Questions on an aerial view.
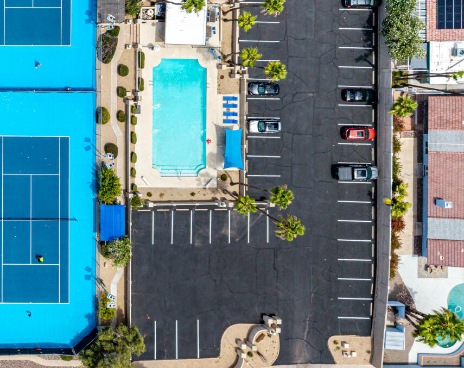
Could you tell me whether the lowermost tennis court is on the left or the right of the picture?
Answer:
left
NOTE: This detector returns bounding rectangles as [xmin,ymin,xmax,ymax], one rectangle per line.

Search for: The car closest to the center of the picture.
[249,118,284,135]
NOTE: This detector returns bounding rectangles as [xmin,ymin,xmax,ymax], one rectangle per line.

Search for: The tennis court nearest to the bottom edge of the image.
[0,92,96,349]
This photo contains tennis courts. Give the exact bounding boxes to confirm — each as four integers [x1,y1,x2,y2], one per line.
[0,0,97,91]
[0,92,96,349]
